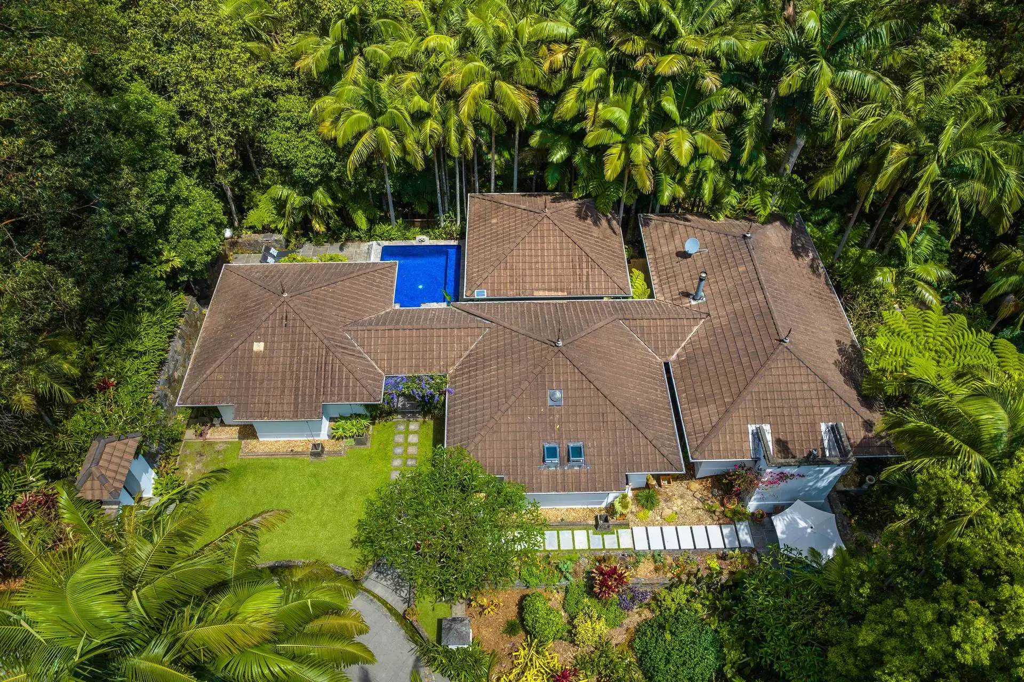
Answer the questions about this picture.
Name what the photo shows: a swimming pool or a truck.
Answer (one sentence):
The image shows a swimming pool.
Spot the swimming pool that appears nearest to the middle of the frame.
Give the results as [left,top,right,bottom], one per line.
[370,230,468,306]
